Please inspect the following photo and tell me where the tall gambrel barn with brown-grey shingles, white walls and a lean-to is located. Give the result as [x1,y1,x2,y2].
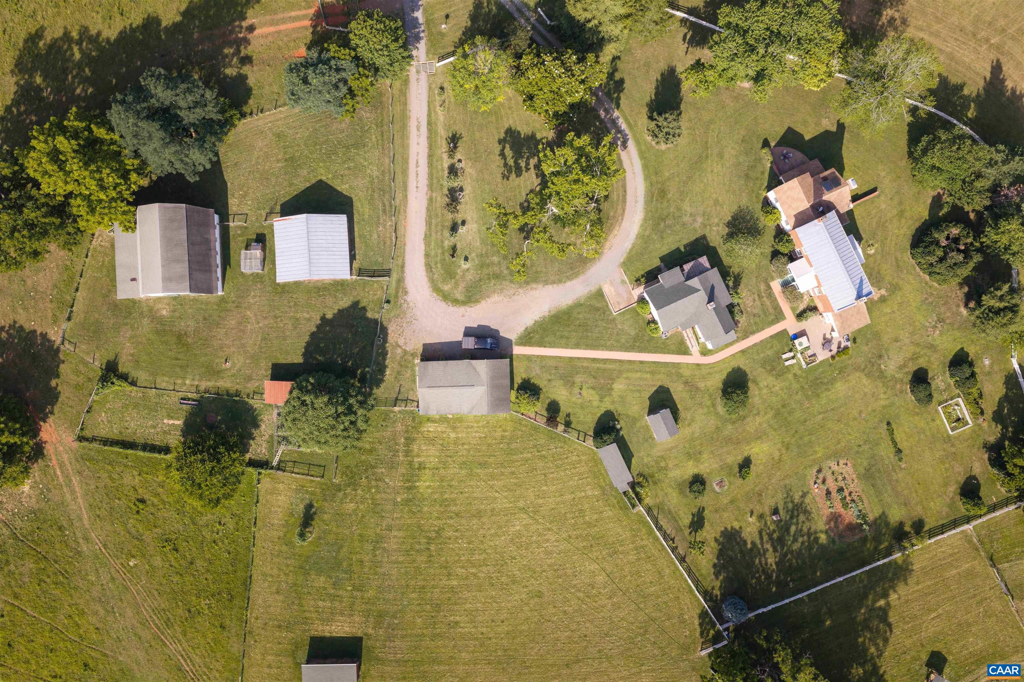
[115,203,221,301]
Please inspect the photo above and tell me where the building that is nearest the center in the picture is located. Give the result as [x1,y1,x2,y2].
[418,359,511,415]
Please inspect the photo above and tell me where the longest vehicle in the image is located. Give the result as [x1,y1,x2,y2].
[460,336,499,351]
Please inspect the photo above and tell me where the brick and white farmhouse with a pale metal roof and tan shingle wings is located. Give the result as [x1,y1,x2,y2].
[764,159,875,337]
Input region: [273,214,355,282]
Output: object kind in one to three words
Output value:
barn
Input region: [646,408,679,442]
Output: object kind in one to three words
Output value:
shed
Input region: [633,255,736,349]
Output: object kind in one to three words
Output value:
house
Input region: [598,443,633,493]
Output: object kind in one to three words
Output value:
shed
